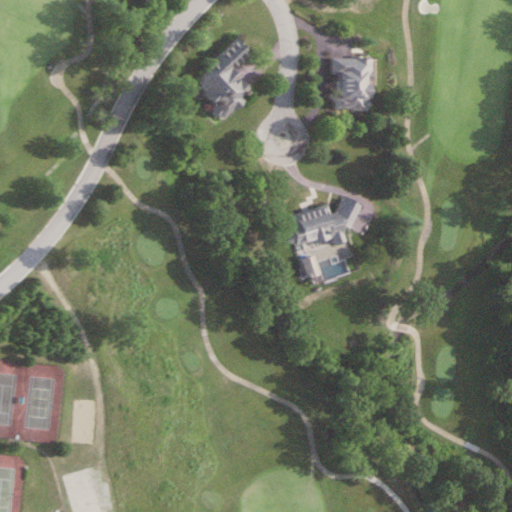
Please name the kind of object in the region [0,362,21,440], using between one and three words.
tennis court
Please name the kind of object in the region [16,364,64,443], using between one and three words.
tennis court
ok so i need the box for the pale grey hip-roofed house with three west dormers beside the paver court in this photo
[328,56,378,113]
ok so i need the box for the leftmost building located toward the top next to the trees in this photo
[198,40,252,124]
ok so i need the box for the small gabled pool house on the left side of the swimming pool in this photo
[297,253,320,280]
